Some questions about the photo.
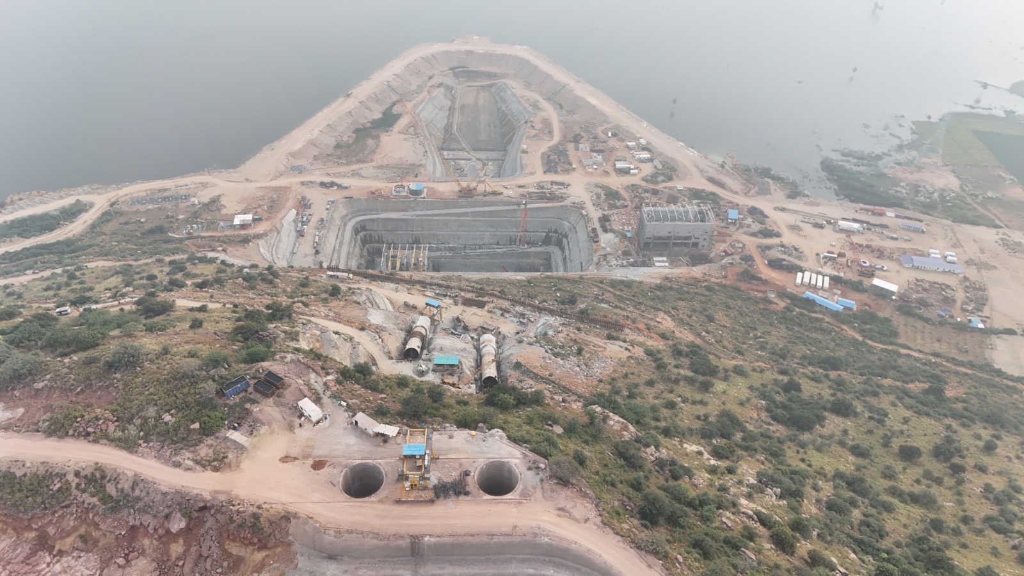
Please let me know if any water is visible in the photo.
Yes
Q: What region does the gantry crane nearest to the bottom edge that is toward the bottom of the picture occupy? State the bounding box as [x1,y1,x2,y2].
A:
[395,428,439,502]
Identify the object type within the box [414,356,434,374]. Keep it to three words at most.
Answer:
vehicle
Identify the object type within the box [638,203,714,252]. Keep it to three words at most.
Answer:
building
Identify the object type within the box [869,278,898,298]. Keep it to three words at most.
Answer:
shed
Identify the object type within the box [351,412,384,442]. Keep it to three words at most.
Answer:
building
